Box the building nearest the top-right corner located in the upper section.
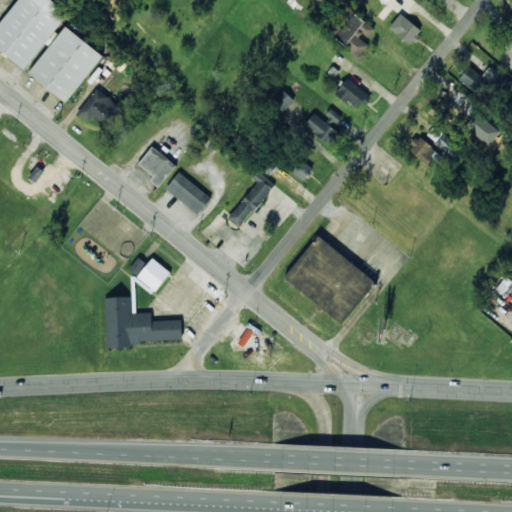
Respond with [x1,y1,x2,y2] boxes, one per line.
[460,66,485,90]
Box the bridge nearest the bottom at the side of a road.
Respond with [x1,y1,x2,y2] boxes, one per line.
[276,492,404,512]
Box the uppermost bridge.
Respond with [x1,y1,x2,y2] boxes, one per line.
[276,444,408,480]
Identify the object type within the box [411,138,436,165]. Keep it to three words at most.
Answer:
house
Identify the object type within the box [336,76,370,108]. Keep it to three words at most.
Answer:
house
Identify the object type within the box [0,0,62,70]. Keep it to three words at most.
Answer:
building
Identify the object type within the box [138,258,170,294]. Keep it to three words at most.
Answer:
building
